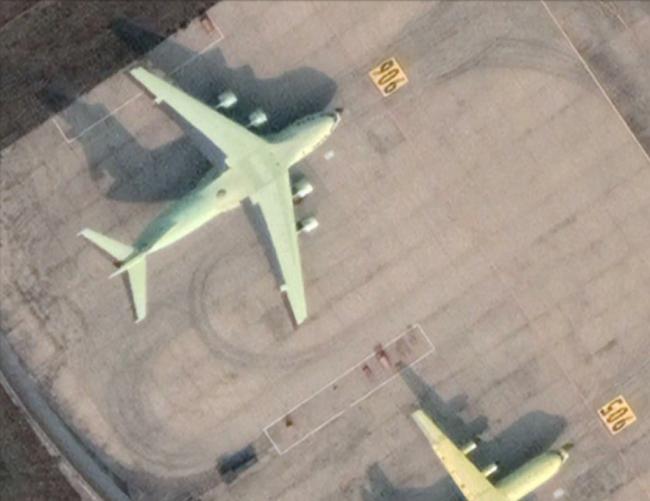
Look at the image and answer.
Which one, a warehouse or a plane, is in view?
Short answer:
plane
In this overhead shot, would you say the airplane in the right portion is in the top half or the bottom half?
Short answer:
bottom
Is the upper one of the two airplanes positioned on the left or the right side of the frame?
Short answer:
left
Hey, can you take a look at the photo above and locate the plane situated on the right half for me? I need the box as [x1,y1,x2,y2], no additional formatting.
[415,412,571,501]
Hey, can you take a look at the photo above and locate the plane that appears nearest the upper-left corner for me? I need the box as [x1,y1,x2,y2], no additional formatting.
[76,67,342,326]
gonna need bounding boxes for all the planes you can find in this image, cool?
[415,412,571,501]
[76,67,342,326]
